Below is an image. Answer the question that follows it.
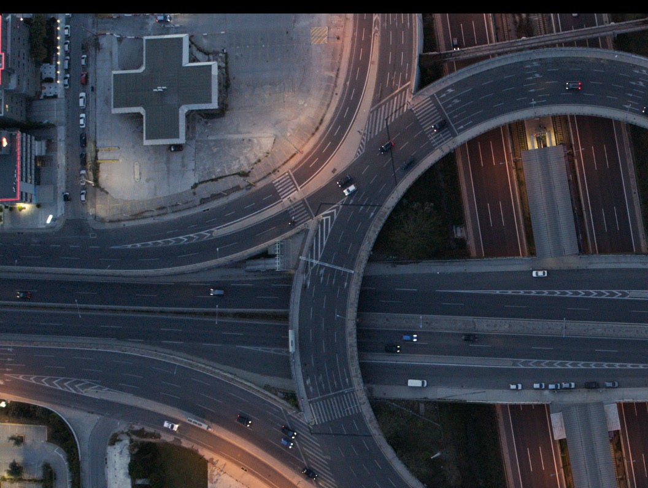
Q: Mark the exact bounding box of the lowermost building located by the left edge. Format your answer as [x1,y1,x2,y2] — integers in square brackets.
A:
[0,130,51,207]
